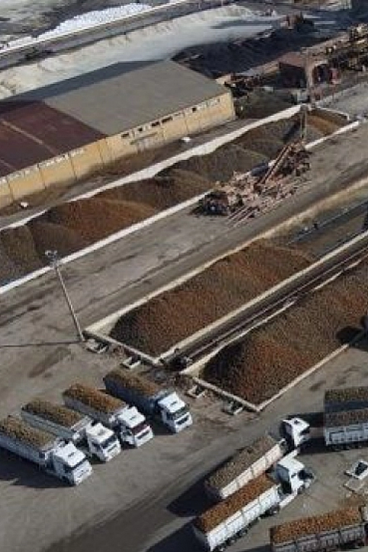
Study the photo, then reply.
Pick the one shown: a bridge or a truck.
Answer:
truck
